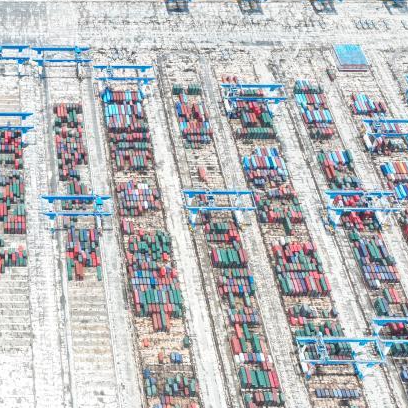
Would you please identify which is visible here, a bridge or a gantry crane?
gantry crane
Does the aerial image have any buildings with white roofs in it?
No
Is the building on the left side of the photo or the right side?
right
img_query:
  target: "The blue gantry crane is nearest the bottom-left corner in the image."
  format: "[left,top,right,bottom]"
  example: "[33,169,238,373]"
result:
[40,194,114,238]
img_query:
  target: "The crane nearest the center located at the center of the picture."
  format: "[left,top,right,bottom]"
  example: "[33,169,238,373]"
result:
[179,187,255,233]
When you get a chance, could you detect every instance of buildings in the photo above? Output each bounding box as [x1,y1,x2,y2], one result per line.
[331,46,370,70]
